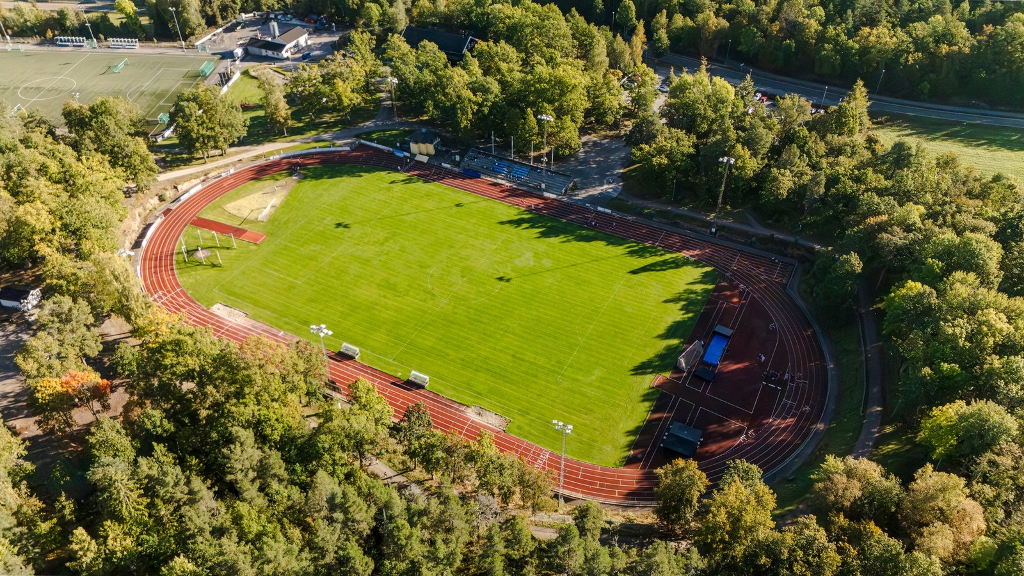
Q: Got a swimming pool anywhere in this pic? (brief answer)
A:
No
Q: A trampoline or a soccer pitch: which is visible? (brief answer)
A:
soccer pitch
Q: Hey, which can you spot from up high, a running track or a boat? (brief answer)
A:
running track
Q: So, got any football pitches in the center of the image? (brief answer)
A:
Yes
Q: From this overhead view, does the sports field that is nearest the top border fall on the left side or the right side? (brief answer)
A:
left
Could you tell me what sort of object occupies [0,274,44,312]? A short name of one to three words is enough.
house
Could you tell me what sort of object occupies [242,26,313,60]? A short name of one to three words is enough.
building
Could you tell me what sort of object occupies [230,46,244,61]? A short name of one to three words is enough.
vehicle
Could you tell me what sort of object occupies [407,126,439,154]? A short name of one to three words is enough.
building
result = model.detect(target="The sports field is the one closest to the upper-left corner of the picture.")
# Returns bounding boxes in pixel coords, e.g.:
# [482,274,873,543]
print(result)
[0,49,224,134]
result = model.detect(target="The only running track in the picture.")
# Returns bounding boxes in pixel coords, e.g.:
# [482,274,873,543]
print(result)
[147,151,827,500]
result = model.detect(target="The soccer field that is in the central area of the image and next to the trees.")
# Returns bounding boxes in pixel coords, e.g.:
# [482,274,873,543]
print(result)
[179,163,724,466]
